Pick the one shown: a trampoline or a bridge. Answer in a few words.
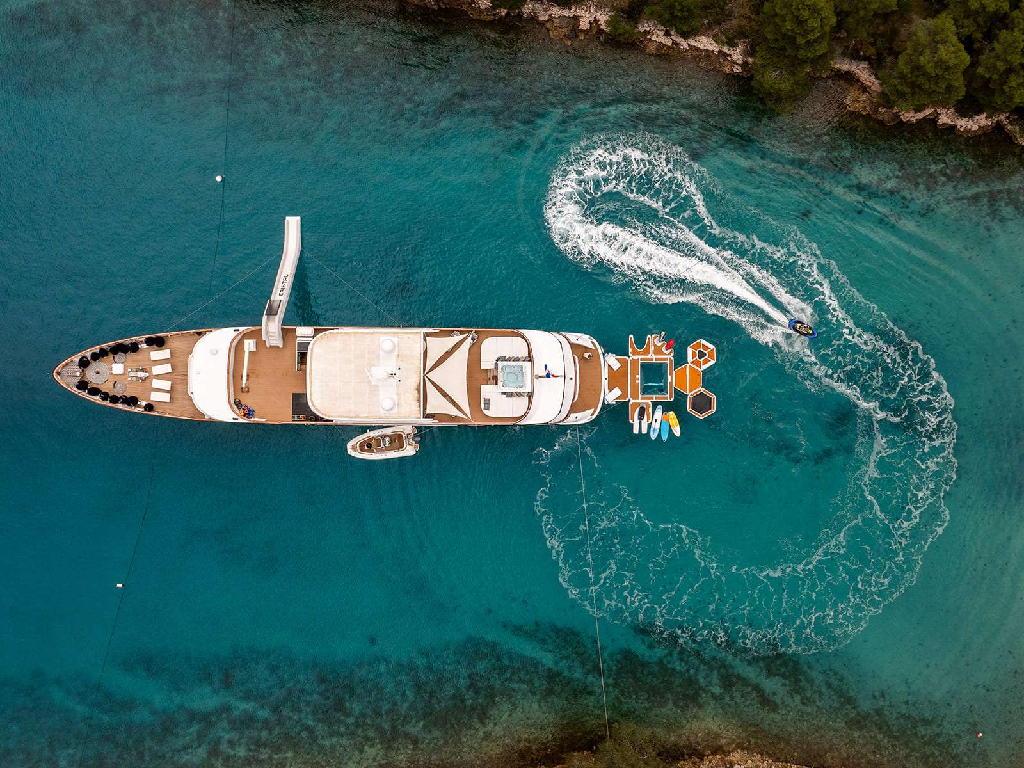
trampoline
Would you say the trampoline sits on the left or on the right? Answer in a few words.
right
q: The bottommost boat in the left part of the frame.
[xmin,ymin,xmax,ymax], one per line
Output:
[347,425,420,459]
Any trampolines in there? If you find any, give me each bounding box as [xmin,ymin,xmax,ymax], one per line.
[688,388,715,419]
